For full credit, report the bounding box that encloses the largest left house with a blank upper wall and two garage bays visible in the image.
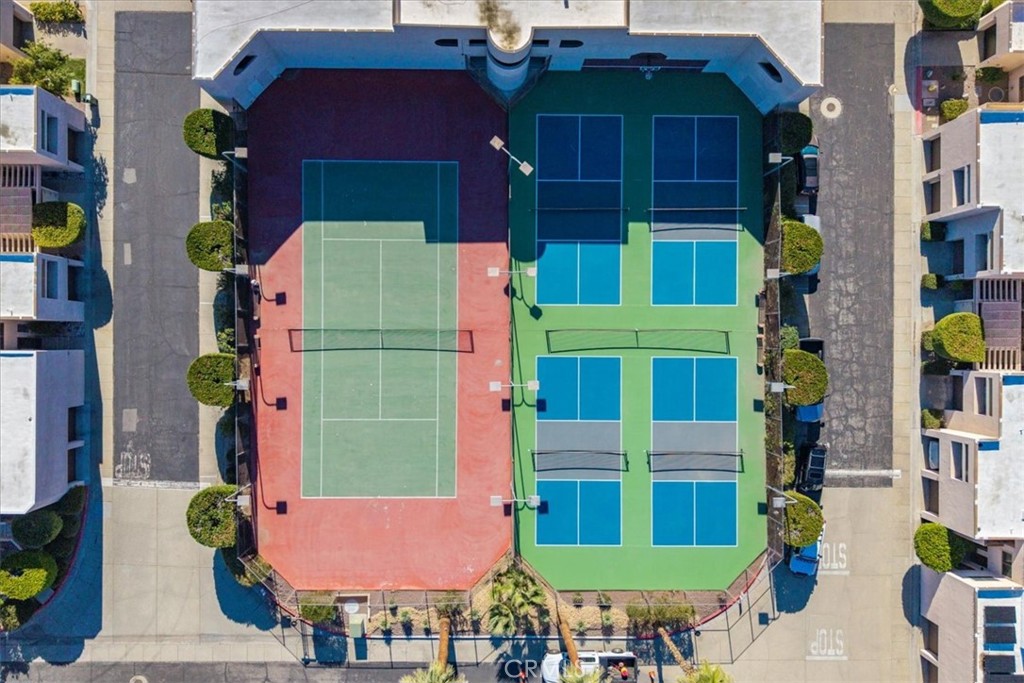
[0,350,84,514]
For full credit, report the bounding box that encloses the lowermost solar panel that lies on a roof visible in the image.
[984,656,1017,671]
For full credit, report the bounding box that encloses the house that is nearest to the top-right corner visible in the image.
[977,5,1024,103]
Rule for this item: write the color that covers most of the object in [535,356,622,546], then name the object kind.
blue sports court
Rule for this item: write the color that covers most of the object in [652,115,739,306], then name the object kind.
blue sports court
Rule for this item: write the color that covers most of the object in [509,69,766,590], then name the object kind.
green sports court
